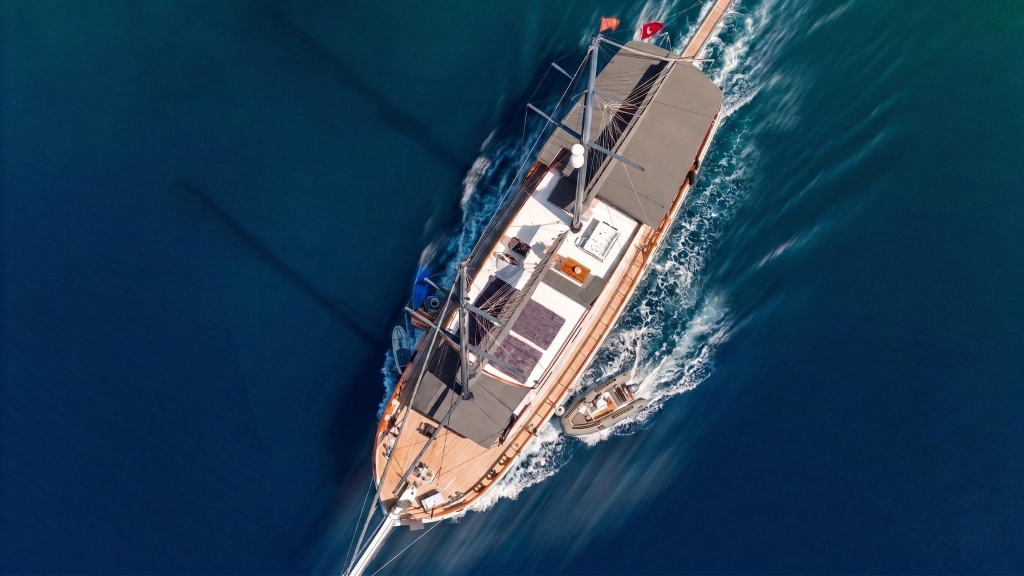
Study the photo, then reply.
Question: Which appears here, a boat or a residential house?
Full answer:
It is a boat that can be seen here.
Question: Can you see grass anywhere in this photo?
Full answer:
No, there's no grass in this view.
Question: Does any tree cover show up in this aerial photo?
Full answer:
No, tree cover can't be seen anywhere here.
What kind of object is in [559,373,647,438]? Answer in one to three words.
boat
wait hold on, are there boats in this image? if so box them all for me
[559,373,647,438]
[336,0,735,576]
